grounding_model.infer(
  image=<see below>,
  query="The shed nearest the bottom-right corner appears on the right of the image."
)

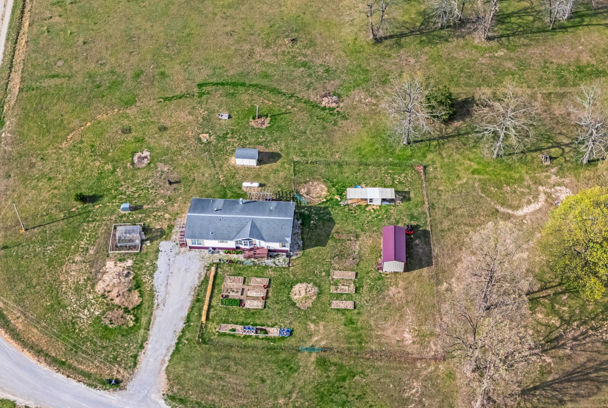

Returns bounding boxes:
[375,223,405,271]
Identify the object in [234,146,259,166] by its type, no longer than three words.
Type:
shed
